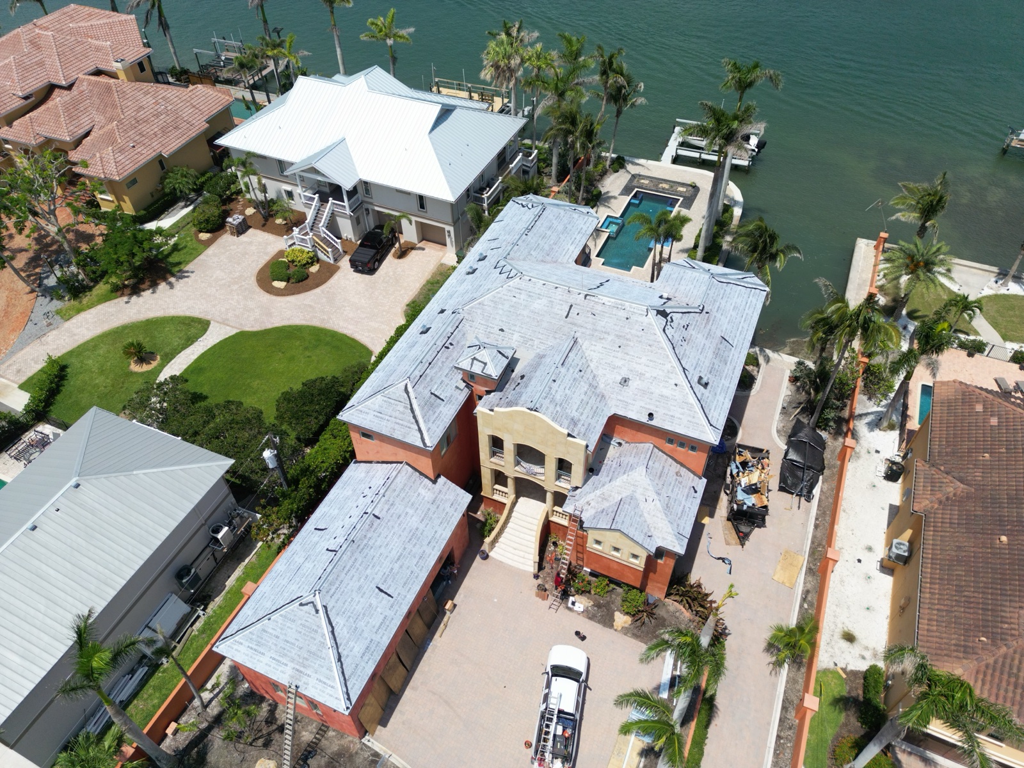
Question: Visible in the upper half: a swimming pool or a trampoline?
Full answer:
There is a swimming pool in the upper half.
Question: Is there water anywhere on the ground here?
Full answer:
Yes, there's water in this view.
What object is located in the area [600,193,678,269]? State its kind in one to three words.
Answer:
swimming pool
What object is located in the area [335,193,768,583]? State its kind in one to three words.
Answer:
house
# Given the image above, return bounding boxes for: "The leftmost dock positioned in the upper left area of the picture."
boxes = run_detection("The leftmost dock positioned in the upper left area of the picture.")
[180,14,298,88]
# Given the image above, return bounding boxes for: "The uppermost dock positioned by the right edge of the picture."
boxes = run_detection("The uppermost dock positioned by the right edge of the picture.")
[993,118,1024,162]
